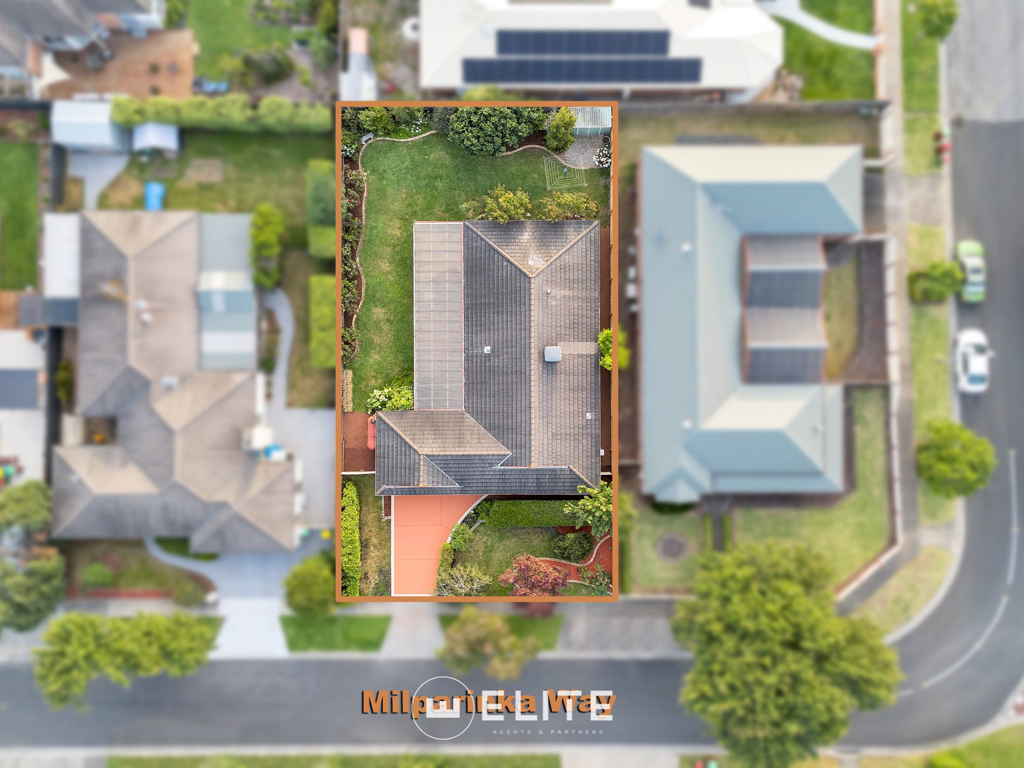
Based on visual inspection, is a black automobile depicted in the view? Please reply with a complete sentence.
No, the picture doesn't show any black automobile.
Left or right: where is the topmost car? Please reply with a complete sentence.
The topmost car is on the right side of the image.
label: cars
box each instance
[959,331,994,392]
[959,241,992,301]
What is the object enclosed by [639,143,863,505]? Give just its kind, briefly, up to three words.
house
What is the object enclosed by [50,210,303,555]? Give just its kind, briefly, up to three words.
house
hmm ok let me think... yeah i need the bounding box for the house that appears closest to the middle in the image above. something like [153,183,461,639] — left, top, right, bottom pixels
[374,218,602,496]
